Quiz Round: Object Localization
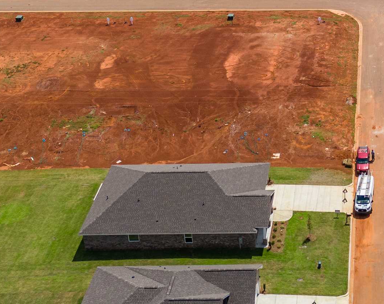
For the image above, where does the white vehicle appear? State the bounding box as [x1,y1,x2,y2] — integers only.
[353,170,373,211]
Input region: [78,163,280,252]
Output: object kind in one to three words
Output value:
house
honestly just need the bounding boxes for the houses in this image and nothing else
[81,265,262,304]
[78,163,280,252]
